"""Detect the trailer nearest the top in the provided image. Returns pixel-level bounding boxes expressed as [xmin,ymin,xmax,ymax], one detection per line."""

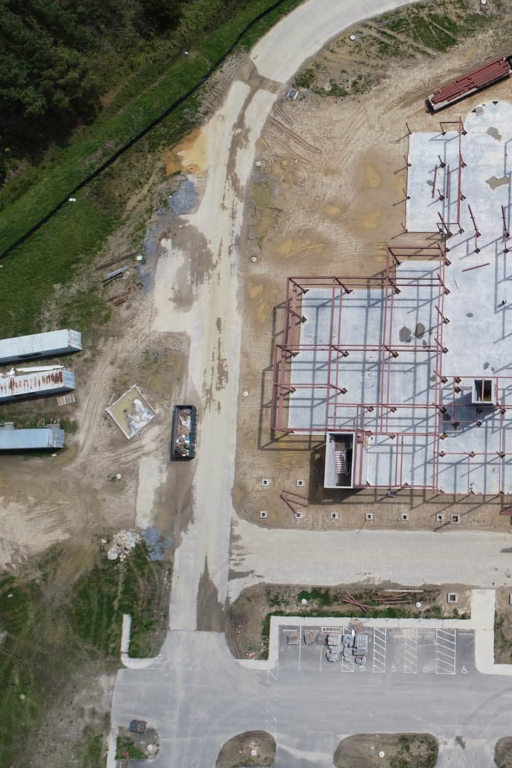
[427,55,512,111]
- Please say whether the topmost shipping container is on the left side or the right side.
left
